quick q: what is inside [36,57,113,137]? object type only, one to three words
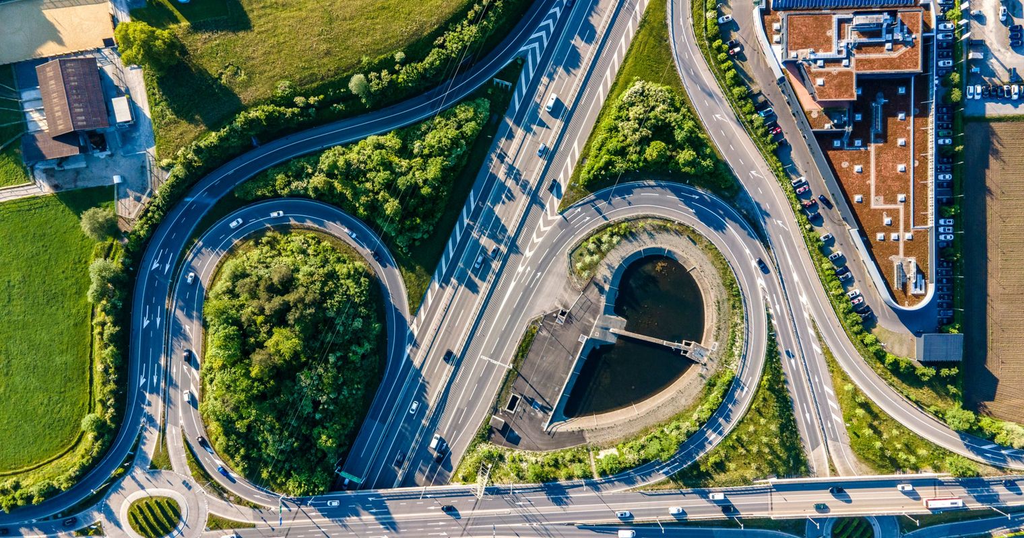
barn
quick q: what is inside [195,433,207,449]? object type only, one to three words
vehicle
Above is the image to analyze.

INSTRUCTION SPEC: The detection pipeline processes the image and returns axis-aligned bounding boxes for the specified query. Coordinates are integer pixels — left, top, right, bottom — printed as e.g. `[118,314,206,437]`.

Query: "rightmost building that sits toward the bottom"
[916,332,964,362]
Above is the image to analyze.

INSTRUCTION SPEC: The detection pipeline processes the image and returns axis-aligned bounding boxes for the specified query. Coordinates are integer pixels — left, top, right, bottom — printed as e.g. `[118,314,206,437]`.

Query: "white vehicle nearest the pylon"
[429,432,441,450]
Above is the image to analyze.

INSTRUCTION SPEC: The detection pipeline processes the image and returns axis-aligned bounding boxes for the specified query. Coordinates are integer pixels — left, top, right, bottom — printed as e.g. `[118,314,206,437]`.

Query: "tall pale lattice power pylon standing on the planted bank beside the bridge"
[469,455,496,500]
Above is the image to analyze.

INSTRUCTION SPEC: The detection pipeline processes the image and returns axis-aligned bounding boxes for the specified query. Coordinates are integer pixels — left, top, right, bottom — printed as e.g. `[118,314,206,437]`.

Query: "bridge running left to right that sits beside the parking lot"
[255,474,1024,538]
